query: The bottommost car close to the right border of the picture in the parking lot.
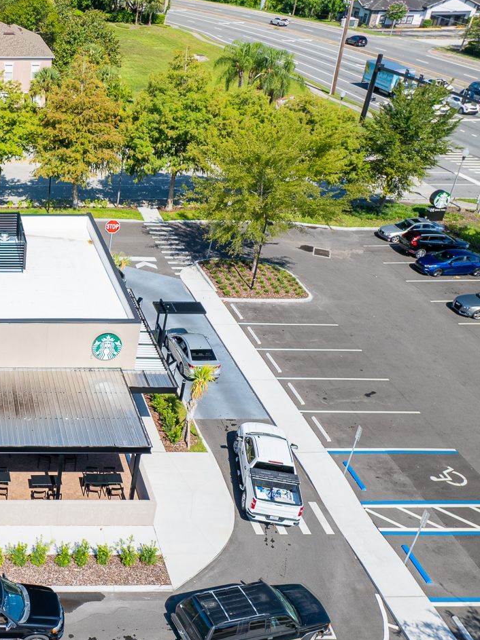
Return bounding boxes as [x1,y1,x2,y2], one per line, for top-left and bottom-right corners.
[448,284,480,318]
